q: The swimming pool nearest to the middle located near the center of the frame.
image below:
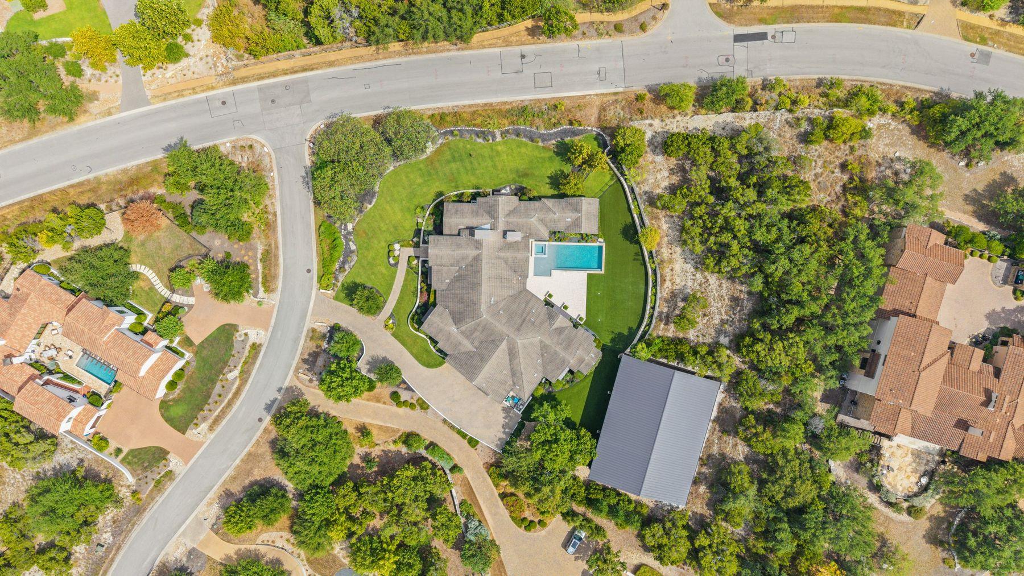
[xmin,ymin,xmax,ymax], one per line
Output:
[529,241,606,279]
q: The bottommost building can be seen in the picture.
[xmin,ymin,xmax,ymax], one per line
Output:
[588,355,720,506]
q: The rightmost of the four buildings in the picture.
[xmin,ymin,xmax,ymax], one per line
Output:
[858,224,1024,462]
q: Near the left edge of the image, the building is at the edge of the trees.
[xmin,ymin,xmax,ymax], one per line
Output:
[0,269,186,437]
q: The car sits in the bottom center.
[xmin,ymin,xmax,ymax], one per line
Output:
[566,531,587,559]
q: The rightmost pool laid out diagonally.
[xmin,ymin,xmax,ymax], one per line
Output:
[74,353,117,388]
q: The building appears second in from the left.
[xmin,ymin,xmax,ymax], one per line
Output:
[421,197,602,404]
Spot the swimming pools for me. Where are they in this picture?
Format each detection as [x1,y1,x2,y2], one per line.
[529,241,606,279]
[74,353,117,388]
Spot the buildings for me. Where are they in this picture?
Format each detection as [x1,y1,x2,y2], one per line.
[421,197,602,404]
[588,355,720,506]
[858,224,1024,462]
[0,269,186,437]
